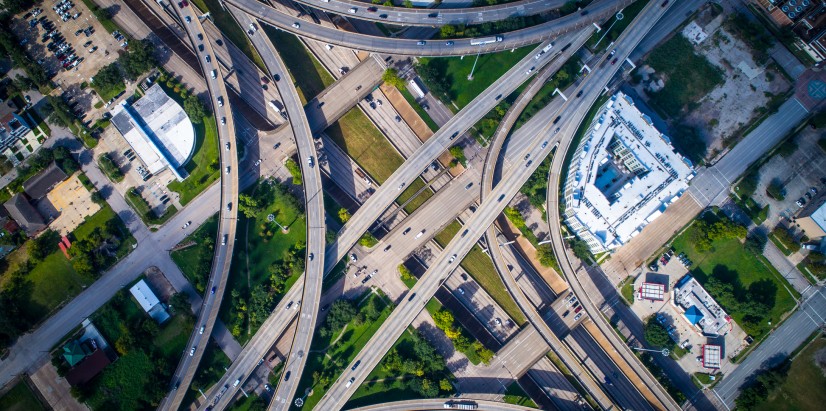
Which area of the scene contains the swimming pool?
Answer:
right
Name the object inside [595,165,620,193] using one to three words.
swimming pool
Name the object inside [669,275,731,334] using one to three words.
building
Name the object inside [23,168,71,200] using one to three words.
house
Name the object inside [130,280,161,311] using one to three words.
shed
